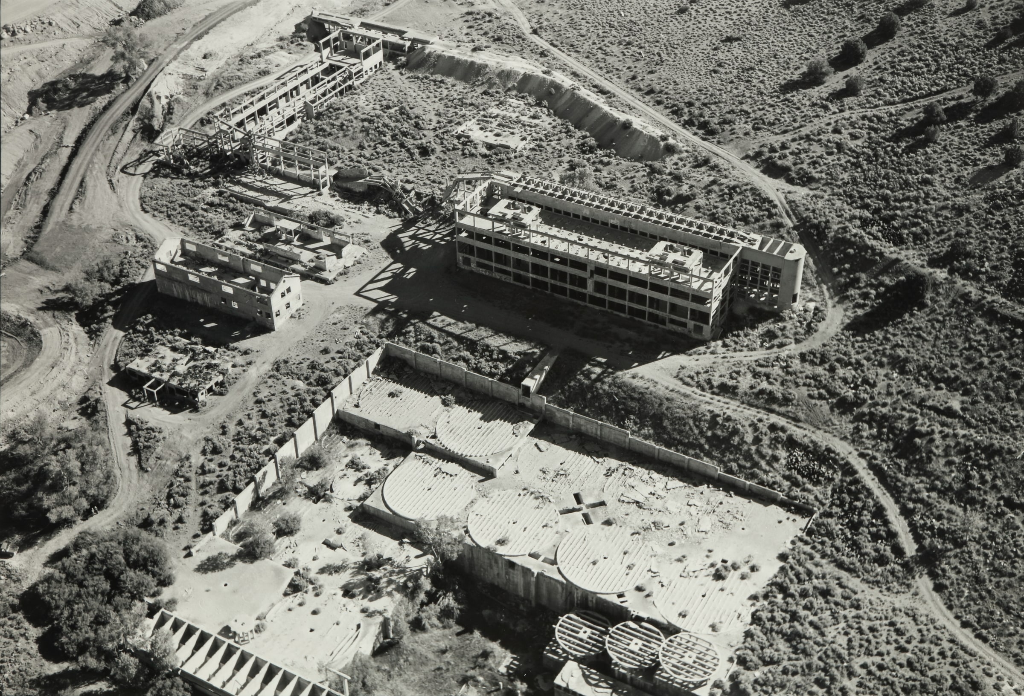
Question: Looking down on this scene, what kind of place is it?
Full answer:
The area seen from above is an industrial area.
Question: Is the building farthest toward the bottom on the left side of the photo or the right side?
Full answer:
The building farthest toward the bottom sits on the left side.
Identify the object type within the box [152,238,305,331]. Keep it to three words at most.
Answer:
building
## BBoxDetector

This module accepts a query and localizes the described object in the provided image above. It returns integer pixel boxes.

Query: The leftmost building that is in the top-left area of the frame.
[150,127,224,168]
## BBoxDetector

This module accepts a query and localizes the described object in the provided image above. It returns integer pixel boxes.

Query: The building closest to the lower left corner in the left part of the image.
[126,346,225,407]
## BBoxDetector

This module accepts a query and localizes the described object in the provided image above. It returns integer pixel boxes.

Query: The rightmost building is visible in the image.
[455,173,805,338]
